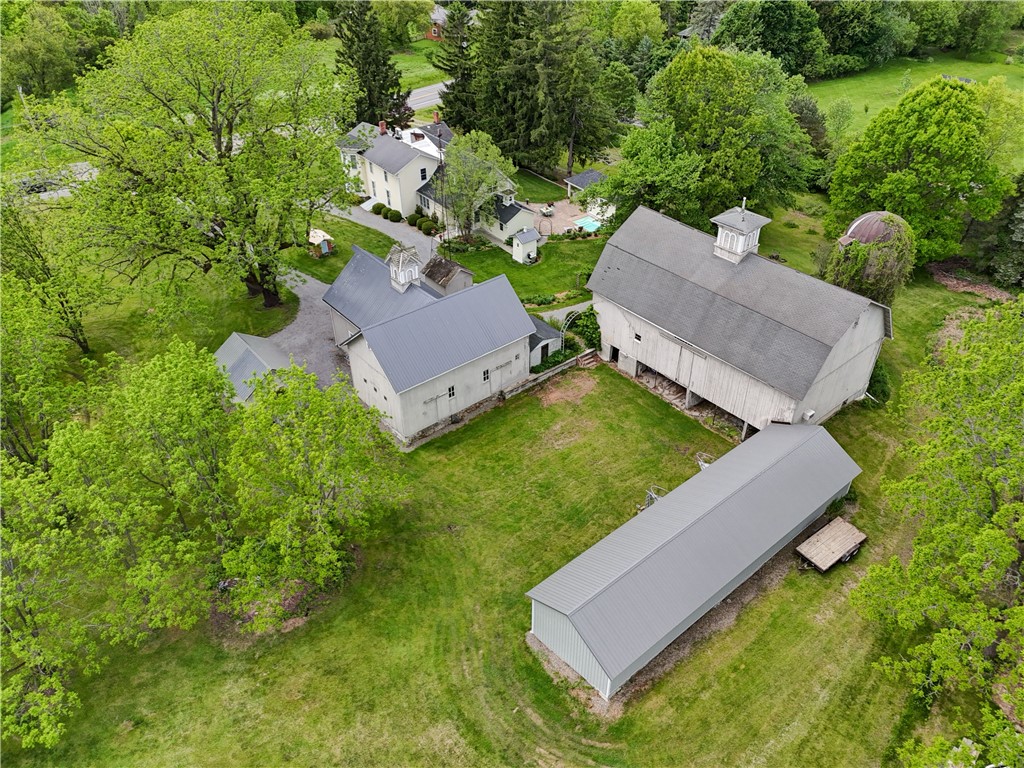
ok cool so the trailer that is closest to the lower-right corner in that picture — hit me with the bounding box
[796,516,867,572]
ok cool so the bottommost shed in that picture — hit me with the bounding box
[525,423,857,705]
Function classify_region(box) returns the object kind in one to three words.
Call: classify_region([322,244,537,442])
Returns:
barn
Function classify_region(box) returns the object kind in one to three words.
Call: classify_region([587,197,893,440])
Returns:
barn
